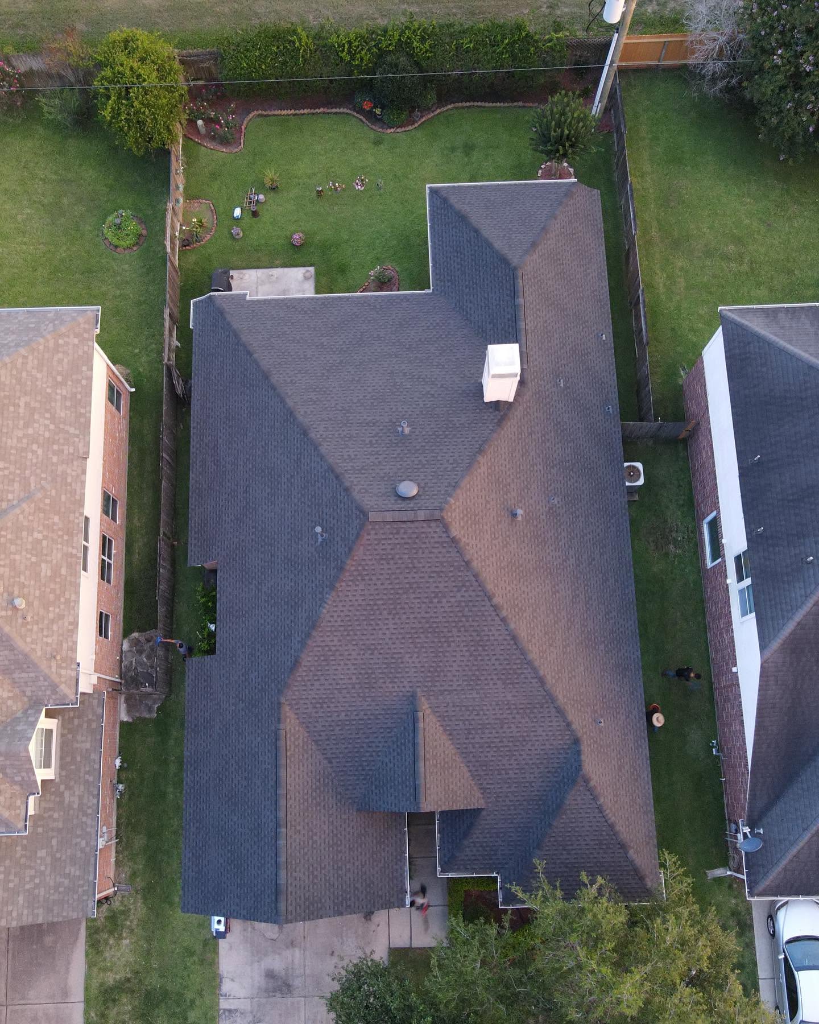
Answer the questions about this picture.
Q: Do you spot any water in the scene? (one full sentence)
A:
No, water can't be seen anywhere here.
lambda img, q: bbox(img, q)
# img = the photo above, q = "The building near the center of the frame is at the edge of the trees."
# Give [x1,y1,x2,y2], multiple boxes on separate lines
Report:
[182,179,667,920]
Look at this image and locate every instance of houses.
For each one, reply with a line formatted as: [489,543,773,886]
[0,306,143,927]
[680,302,819,903]
[182,179,667,920]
